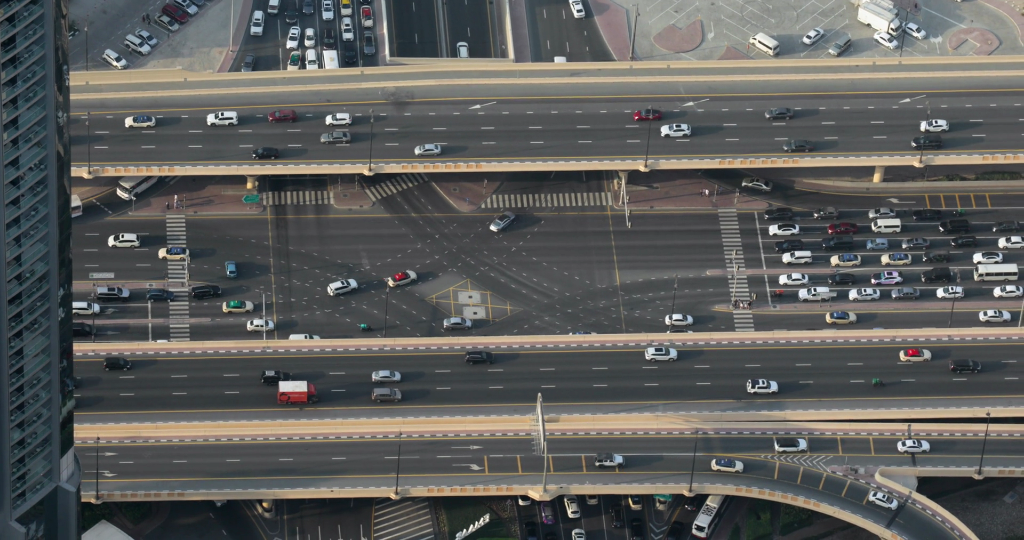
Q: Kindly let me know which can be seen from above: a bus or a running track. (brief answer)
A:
bus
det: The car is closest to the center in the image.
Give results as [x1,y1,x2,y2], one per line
[489,212,516,231]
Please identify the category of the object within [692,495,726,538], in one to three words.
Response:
bus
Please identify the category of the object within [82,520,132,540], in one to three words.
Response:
tent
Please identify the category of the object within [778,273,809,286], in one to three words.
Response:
vehicle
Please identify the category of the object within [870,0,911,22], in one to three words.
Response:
truck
